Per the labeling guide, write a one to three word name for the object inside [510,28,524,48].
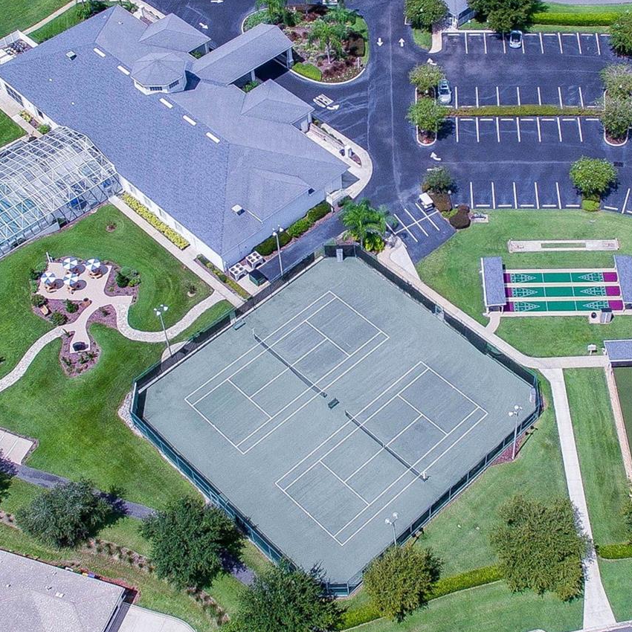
vehicle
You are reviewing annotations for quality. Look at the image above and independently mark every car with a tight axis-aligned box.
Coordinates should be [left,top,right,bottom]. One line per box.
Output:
[439,80,453,103]
[510,28,524,48]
